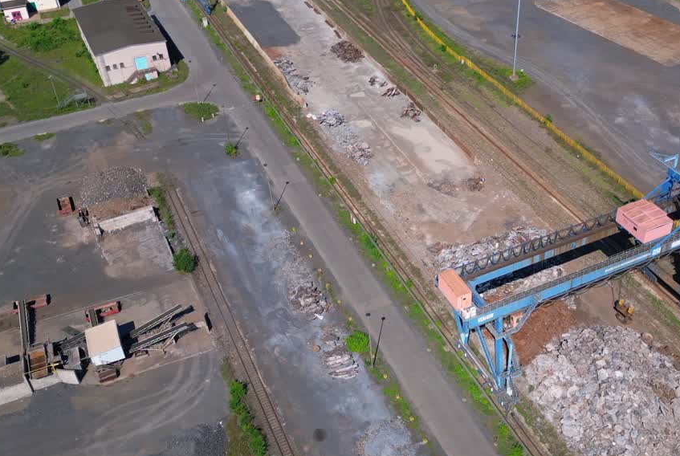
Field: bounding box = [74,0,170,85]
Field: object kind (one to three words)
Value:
building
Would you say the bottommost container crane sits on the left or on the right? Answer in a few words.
right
